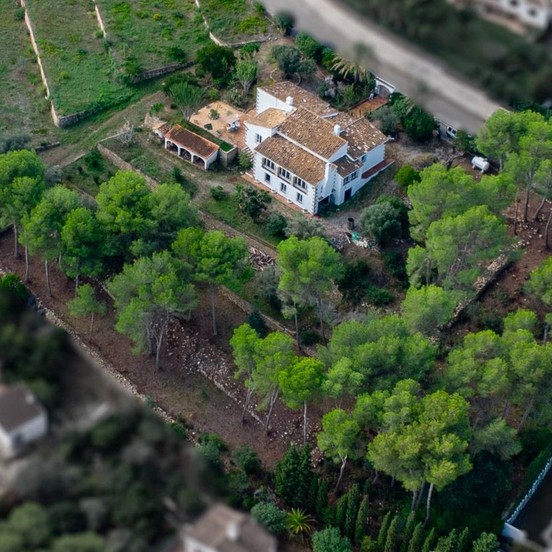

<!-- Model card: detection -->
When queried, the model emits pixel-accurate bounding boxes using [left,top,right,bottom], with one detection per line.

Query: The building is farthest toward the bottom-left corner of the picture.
[0,385,49,444]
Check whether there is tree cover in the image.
Yes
